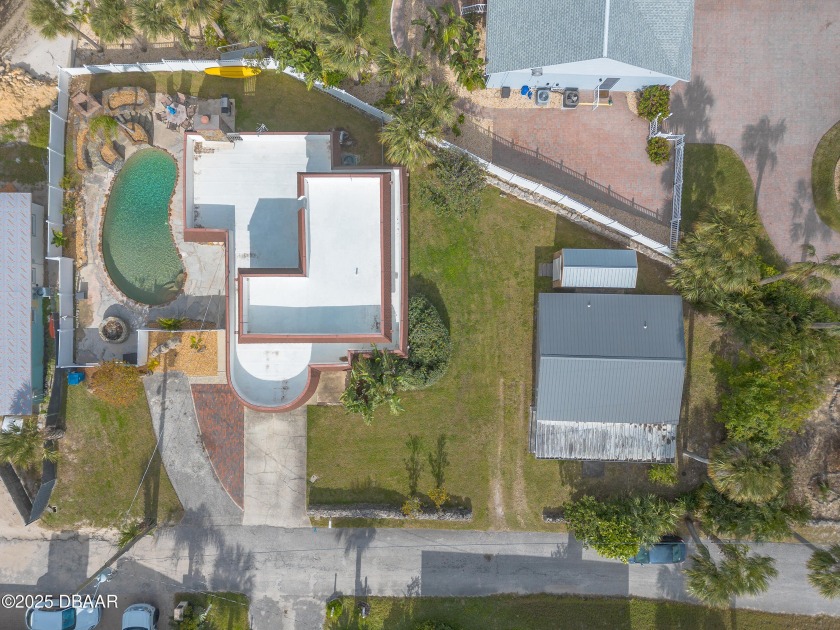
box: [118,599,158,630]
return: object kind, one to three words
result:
car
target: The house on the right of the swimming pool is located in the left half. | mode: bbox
[185,112,409,409]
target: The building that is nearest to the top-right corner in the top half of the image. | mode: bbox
[484,0,691,108]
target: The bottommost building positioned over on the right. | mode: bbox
[531,293,687,463]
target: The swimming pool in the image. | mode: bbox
[97,142,189,307]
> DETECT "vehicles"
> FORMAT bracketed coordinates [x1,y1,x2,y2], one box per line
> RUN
[118,599,158,630]
[617,535,692,572]
[21,601,102,630]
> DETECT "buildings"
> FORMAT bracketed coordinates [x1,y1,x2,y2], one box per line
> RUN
[555,249,638,289]
[185,112,409,409]
[484,0,691,108]
[531,293,687,463]
[0,193,43,415]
